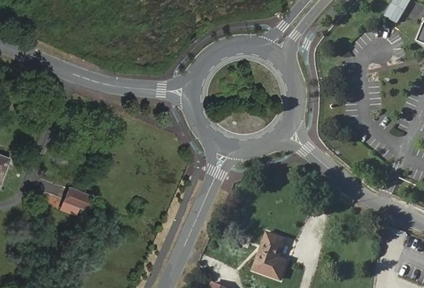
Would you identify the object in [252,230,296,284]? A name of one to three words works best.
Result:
house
